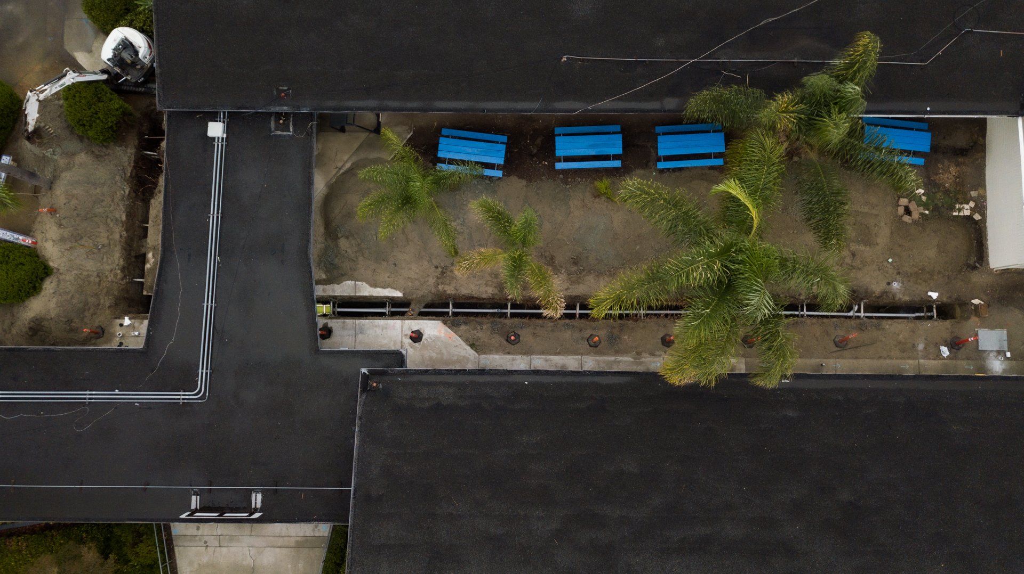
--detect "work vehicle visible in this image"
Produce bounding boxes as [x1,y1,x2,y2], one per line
[23,27,156,141]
